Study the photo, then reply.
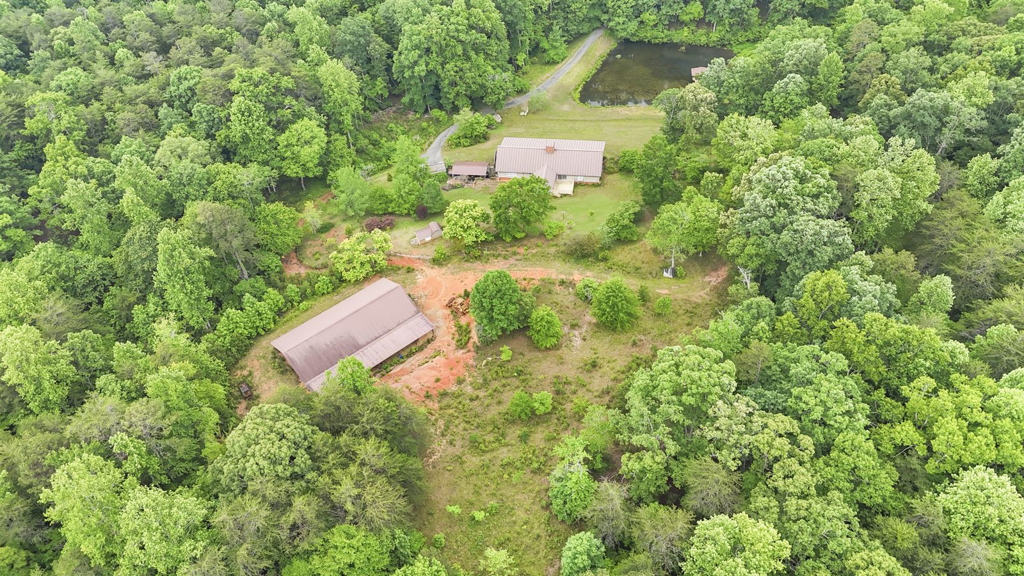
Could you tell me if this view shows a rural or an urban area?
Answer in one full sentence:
The area is rural.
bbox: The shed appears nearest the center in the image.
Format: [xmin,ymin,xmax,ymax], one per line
[414,220,444,245]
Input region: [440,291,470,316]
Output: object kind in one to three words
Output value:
work vehicle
